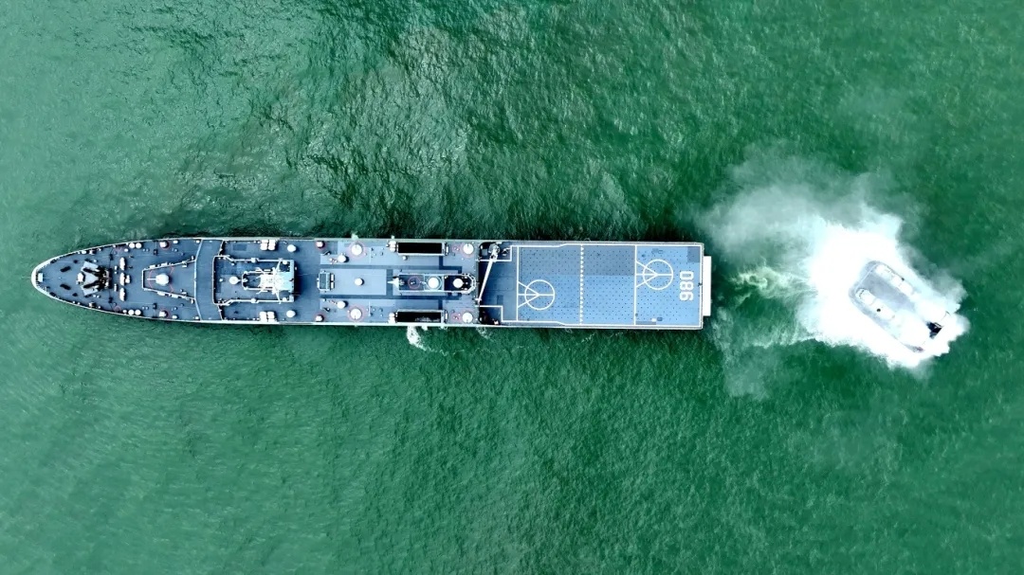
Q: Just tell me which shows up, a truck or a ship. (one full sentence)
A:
Looking from above, you can make out a ship.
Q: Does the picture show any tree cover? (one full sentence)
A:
No, no tree cover is visible.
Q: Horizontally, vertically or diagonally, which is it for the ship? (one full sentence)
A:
The ship has been laid out horizontally relative to the frame.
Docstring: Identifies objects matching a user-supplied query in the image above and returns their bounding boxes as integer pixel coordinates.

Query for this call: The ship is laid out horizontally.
[23,235,711,331]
